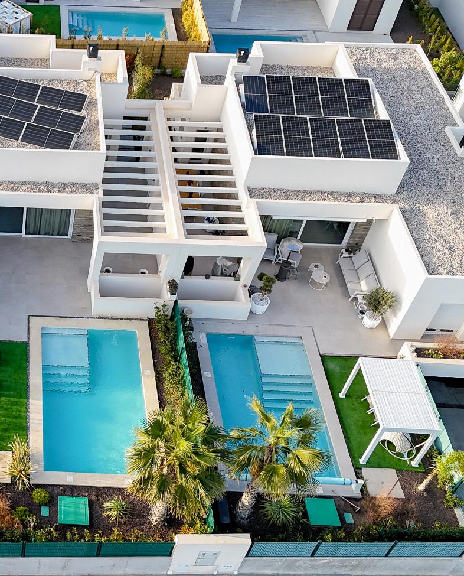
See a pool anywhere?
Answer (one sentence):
Yes, there is a pool in the image.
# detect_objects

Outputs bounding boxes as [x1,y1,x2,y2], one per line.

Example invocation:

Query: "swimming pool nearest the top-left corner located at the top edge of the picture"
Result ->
[59,4,179,40]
